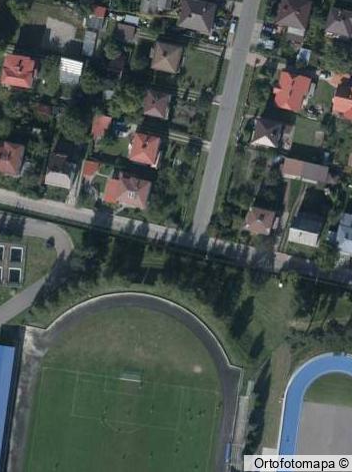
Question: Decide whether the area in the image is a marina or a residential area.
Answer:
residential area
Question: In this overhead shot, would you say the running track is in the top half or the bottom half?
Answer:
bottom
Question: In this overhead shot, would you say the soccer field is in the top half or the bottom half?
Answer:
bottom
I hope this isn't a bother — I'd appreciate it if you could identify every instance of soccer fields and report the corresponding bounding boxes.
[27,306,225,472]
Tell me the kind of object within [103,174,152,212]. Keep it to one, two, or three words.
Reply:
house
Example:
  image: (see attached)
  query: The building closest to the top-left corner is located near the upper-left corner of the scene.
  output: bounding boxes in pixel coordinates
[1,54,38,91]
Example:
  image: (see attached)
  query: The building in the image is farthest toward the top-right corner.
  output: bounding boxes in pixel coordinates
[325,5,352,41]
